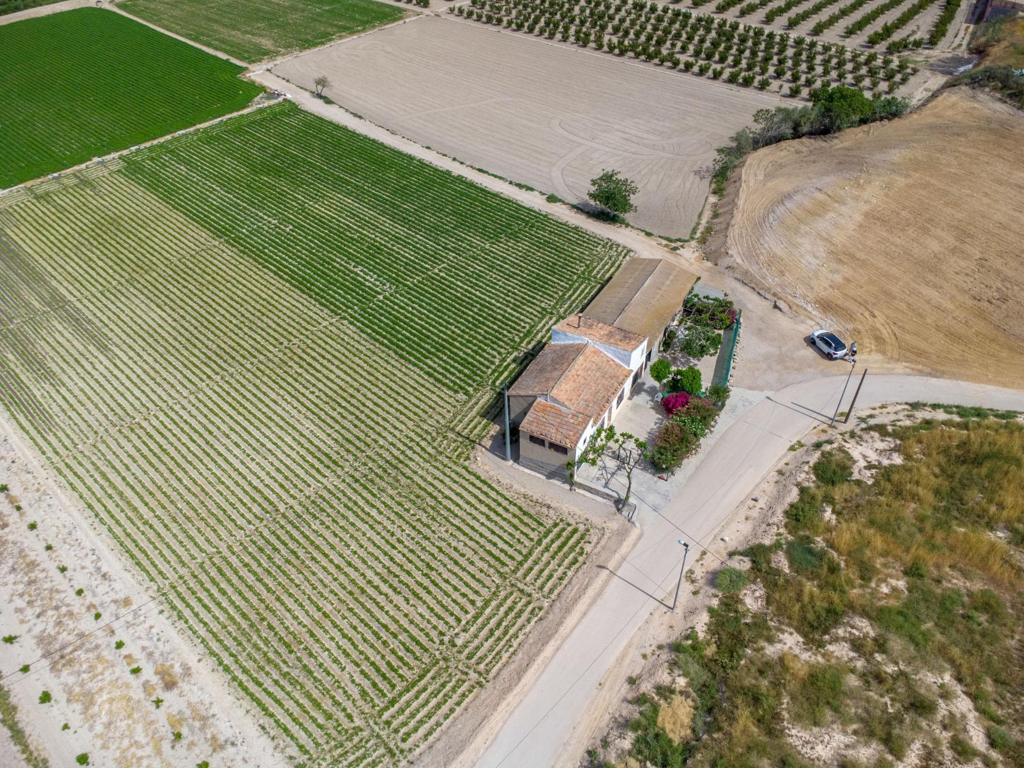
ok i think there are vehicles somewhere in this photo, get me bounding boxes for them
[810,331,851,361]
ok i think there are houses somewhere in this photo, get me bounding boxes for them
[981,0,1024,22]
[503,312,651,489]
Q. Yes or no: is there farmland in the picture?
Yes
